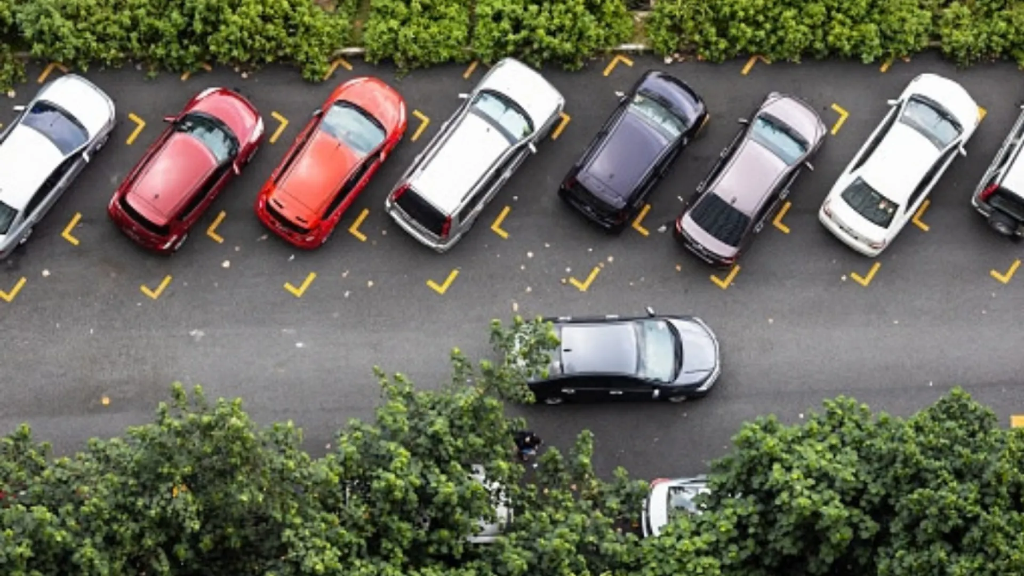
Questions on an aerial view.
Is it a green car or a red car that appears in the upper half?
red car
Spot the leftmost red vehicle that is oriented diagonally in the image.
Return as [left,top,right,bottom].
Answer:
[111,84,262,258]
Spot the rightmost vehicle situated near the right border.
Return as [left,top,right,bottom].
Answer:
[971,114,1024,238]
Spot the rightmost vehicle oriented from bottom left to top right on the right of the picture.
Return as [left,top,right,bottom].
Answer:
[819,68,978,261]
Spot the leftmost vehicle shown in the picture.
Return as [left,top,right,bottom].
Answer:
[0,71,117,268]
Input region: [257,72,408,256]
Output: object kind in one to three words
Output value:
car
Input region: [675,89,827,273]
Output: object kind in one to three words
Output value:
car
